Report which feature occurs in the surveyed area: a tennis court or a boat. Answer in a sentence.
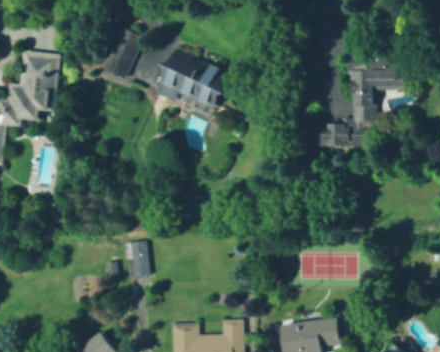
The one in the frame is a tennis court.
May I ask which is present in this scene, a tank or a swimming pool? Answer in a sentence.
There is a swimming pool in the scene.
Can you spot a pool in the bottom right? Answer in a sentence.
Yes, I can see a pool in the bottom right.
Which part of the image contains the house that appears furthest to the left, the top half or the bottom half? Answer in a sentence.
The house that appears furthest to the left is in the top half of the image.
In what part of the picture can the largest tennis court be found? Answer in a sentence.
The largest tennis court is located in the bottom right region of the scene.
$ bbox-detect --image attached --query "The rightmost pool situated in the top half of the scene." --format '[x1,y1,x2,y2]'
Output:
[389,96,415,110]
